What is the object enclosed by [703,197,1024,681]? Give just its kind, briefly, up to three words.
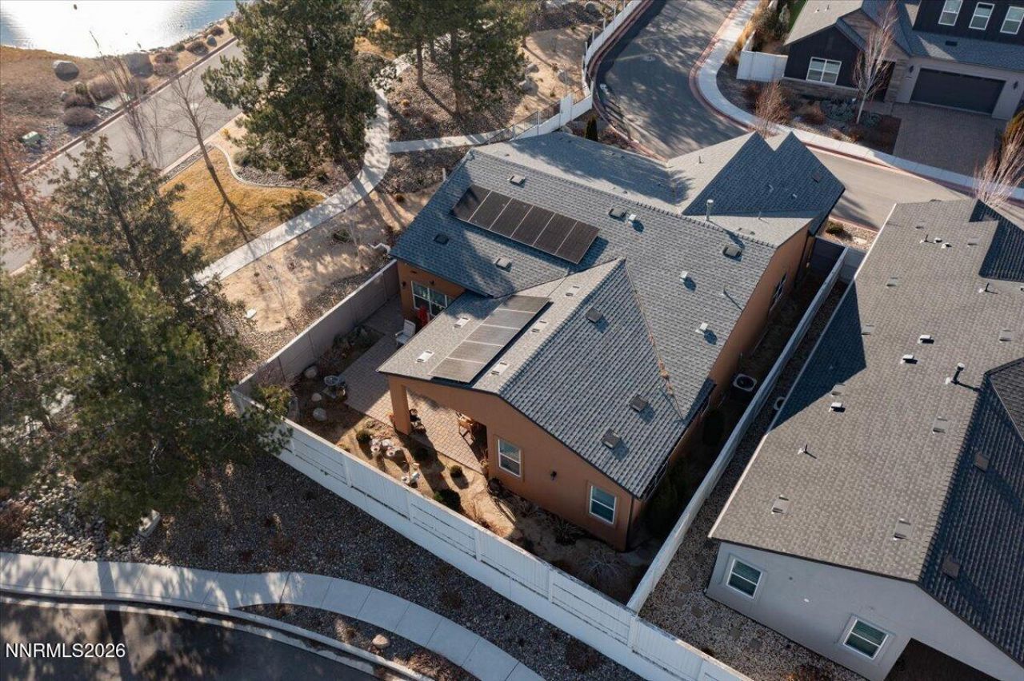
house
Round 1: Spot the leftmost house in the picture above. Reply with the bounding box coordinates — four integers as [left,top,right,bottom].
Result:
[375,132,848,550]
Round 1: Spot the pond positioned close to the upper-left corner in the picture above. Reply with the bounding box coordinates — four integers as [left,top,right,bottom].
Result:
[0,0,228,56]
